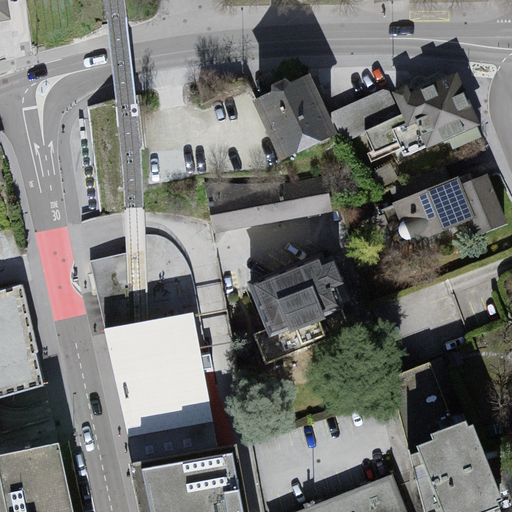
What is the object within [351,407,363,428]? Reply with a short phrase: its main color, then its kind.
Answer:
white vehicle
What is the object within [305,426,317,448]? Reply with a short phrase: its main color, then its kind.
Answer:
blue vehicle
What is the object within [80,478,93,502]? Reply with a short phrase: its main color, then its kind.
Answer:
black vehicle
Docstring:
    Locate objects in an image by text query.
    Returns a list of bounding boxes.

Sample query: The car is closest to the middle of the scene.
[246,260,267,278]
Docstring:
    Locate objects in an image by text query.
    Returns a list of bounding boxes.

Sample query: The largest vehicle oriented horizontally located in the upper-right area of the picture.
[390,24,414,36]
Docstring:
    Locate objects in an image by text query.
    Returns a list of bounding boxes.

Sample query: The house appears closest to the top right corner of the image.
[392,72,482,153]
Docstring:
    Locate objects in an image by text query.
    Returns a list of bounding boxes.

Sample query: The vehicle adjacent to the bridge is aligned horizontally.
[84,54,108,67]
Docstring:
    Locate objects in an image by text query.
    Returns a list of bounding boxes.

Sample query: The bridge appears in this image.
[104,0,144,208]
